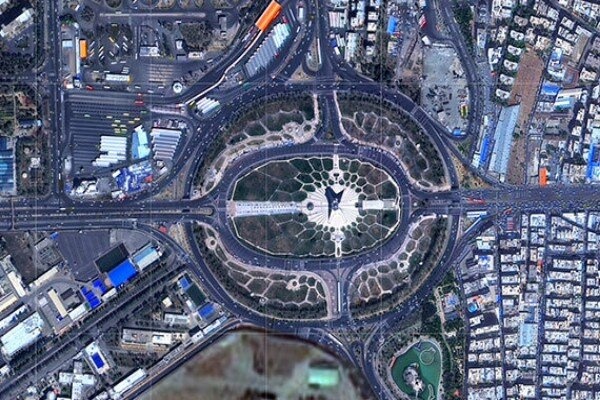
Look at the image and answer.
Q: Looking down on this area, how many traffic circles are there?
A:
1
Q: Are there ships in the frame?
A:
No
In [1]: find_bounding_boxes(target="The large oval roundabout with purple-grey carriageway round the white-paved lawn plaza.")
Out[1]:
[218,142,415,271]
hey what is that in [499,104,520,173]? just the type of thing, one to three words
building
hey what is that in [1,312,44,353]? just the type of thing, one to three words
building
